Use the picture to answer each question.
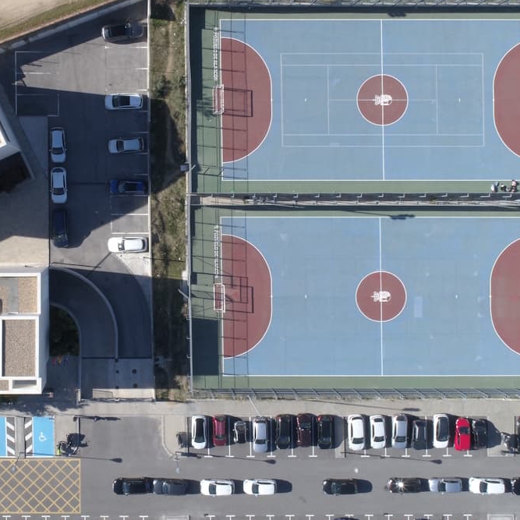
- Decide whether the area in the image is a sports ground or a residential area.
sports ground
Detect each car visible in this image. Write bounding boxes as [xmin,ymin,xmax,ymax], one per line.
[114,477,151,496]
[470,417,489,448]
[316,414,335,448]
[108,236,148,254]
[242,478,276,497]
[252,415,270,452]
[452,416,472,451]
[108,136,146,155]
[347,414,365,450]
[51,208,69,247]
[153,478,188,497]
[410,418,429,449]
[369,414,388,448]
[431,412,451,448]
[274,413,292,449]
[49,166,67,205]
[199,478,234,497]
[233,419,247,443]
[387,477,423,495]
[296,412,313,447]
[48,127,67,164]
[427,477,462,495]
[212,414,228,446]
[510,477,520,494]
[105,92,142,111]
[391,414,409,448]
[323,477,358,497]
[190,414,208,449]
[467,477,506,497]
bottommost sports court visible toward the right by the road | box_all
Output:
[192,208,520,389]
